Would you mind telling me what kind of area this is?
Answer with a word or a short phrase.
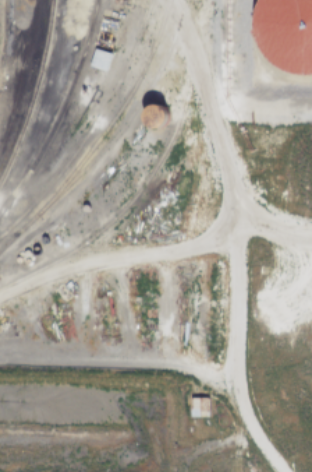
industrial area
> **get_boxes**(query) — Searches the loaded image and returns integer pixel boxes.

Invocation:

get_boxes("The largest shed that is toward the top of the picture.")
[92,49,114,70]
